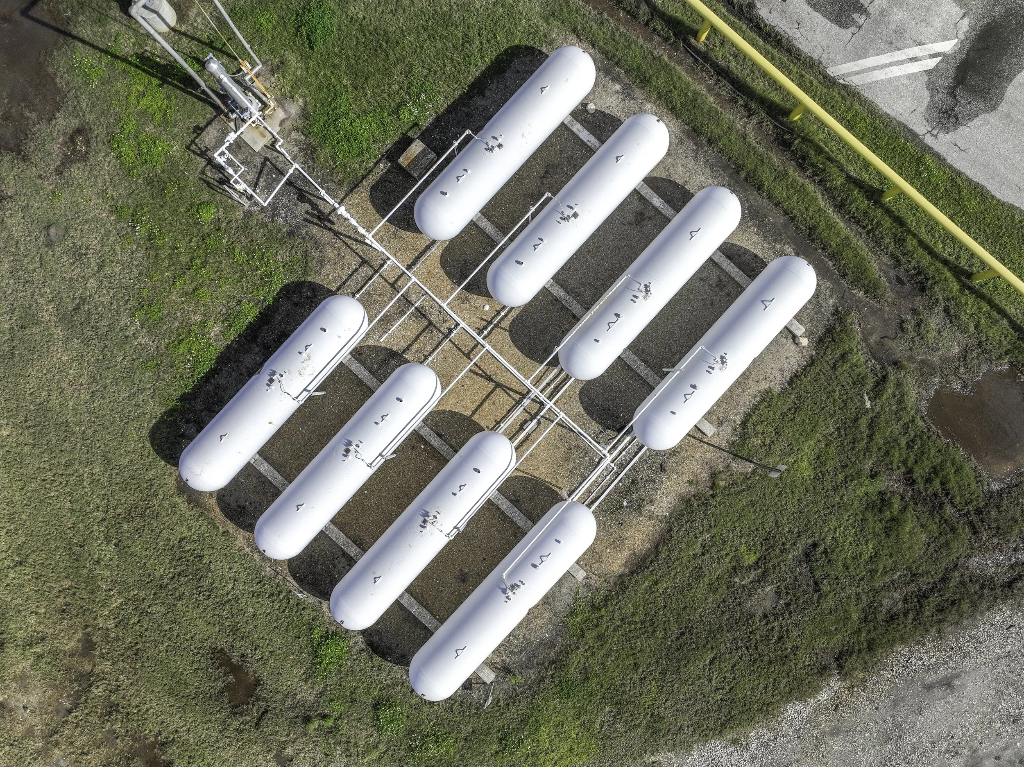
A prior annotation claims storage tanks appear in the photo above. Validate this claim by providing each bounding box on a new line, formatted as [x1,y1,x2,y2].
[409,501,596,703]
[177,296,367,491]
[253,364,440,560]
[488,113,668,306]
[559,186,741,379]
[330,431,515,631]
[415,44,594,239]
[633,256,817,449]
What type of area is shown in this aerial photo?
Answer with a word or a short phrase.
industrial area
